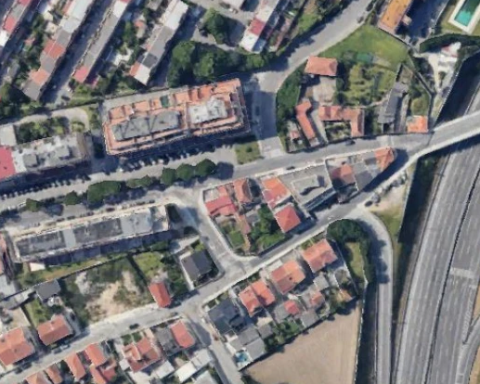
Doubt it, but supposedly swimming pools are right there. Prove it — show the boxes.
[446,0,480,31]
[236,350,250,364]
